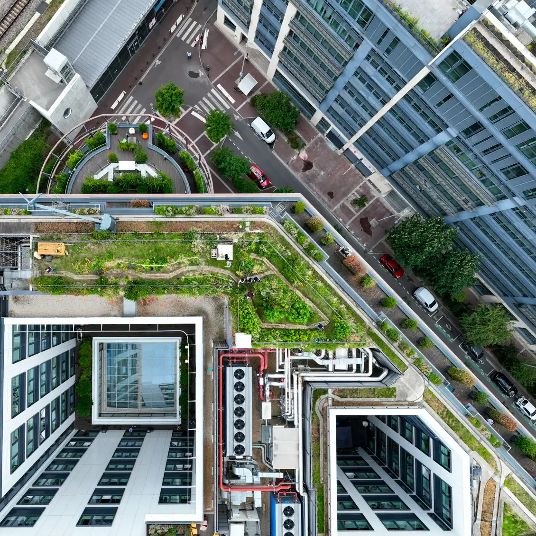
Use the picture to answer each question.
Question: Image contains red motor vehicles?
Yes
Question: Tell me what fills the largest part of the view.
buildings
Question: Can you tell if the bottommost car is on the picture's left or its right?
right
